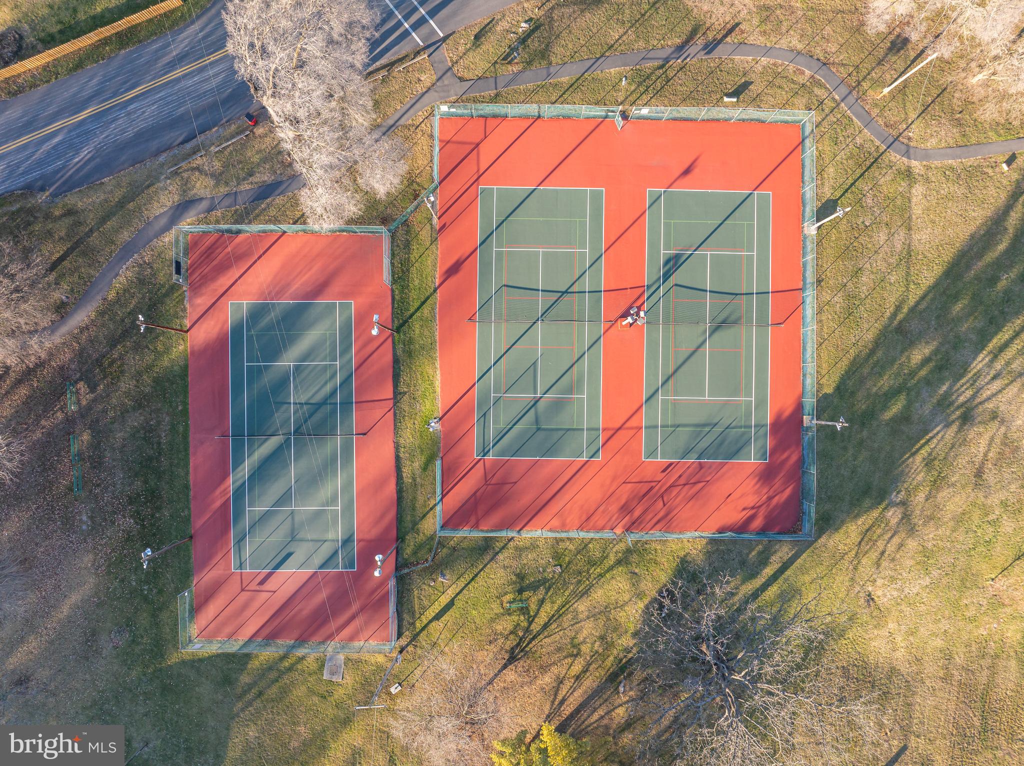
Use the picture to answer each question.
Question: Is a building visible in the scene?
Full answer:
No, I can see no building in this picture.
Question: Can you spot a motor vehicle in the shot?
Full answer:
No, I can see no motor vehicle in this picture.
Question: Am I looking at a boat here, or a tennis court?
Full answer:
The one in the frame is a tennis court.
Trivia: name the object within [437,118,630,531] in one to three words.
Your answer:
tennis court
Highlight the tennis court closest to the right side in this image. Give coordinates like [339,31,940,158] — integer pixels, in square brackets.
[618,120,802,531]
